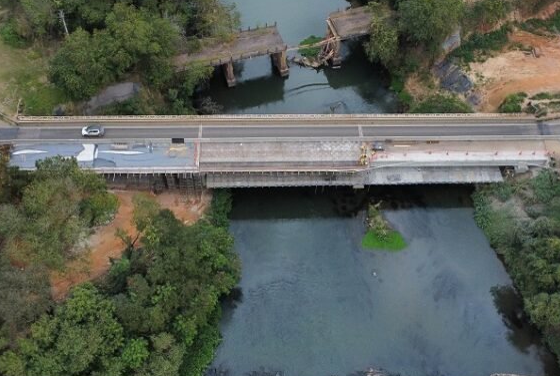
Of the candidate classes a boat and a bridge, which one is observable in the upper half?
bridge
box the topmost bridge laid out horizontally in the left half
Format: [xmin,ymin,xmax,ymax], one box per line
[148,20,287,86]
